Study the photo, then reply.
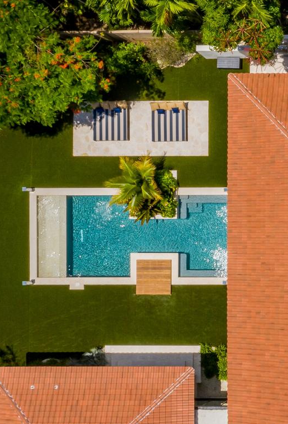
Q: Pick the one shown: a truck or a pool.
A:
pool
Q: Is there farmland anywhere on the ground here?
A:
No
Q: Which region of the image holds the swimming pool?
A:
center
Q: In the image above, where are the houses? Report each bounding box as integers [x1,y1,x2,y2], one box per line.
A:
[0,365,198,424]
[225,70,288,424]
